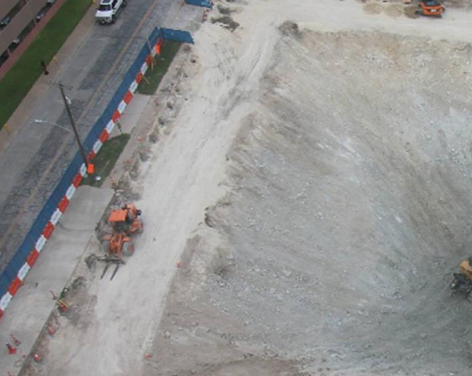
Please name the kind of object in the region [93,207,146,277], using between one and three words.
work vehicle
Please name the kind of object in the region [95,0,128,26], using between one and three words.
truck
